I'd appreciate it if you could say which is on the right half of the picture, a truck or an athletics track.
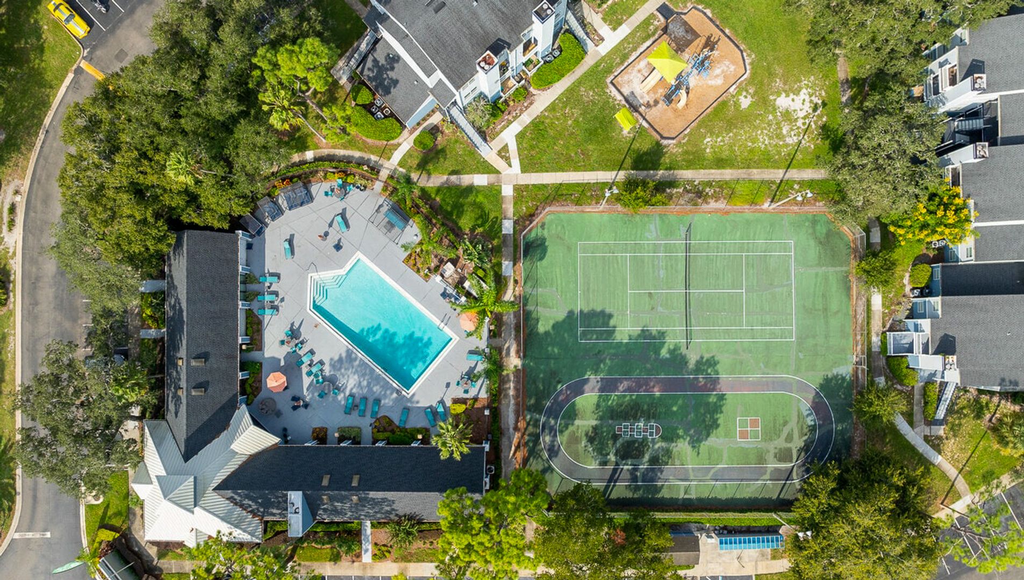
athletics track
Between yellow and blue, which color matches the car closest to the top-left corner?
yellow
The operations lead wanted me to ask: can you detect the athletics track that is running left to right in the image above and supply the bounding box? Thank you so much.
[541,376,835,484]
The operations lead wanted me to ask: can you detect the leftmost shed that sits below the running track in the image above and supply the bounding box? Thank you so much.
[659,531,699,565]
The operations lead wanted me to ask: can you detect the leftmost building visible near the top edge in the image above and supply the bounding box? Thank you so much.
[357,0,609,129]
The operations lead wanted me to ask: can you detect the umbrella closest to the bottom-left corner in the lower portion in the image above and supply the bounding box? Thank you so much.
[269,372,289,391]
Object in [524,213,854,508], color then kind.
green sports court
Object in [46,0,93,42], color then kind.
yellow car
